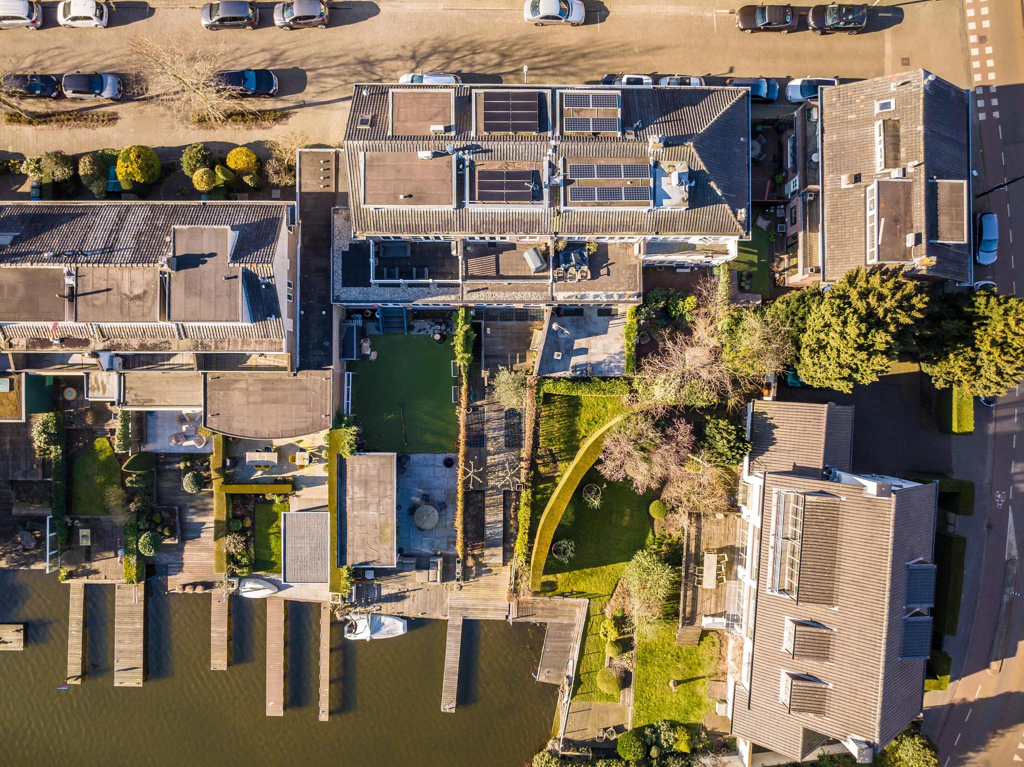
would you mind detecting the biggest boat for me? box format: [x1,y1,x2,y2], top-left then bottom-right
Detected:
[345,614,408,642]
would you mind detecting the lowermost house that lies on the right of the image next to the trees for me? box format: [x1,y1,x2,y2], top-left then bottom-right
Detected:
[714,458,940,767]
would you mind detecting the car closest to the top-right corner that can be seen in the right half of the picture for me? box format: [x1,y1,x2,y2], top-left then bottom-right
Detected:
[804,5,866,39]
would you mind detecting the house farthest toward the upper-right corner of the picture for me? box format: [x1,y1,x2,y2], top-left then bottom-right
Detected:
[781,64,972,292]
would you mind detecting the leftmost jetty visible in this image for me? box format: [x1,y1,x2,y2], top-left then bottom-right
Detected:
[0,620,29,652]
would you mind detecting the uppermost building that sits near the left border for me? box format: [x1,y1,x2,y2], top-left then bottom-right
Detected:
[0,201,301,372]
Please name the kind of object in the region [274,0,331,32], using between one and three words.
car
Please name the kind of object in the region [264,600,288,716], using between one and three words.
pier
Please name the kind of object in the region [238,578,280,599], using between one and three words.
boat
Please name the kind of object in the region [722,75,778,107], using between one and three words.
car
